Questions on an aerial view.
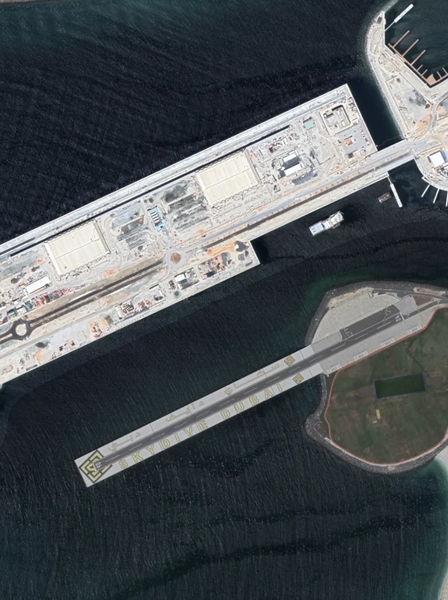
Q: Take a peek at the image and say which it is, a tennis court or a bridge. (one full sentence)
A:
The one in the frame is a bridge.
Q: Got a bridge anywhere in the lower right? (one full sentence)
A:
No, no bridge appears in the lower right.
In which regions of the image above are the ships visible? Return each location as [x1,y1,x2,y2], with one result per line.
[378,192,391,203]
[309,211,344,235]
